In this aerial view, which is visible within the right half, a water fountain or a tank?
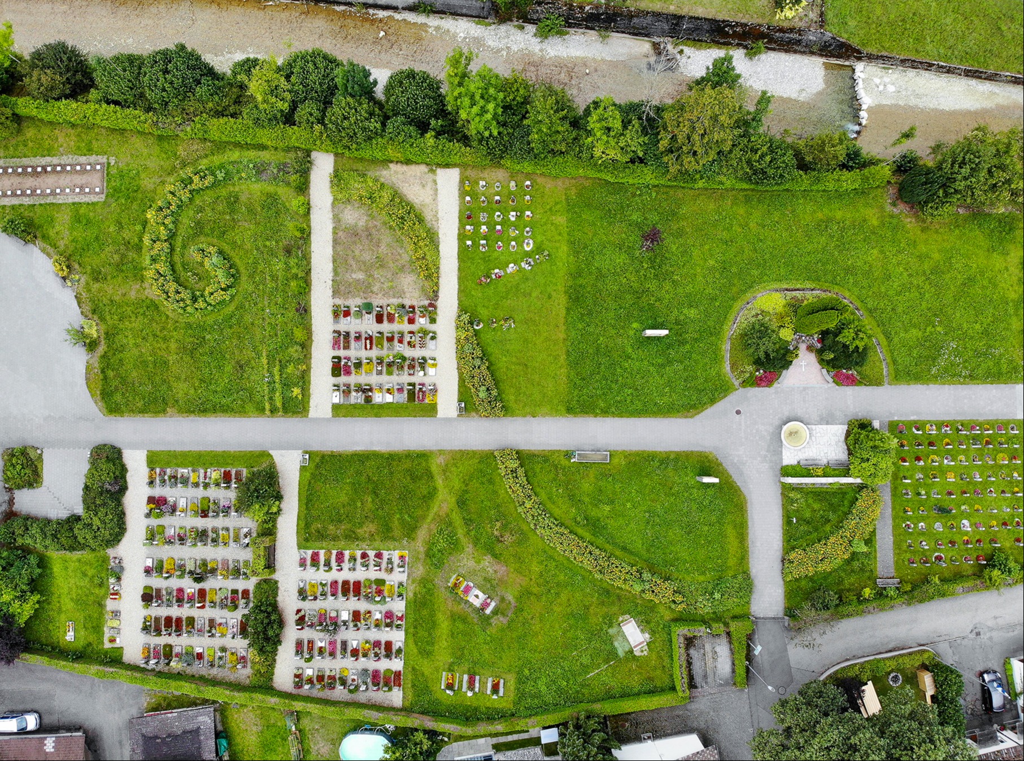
water fountain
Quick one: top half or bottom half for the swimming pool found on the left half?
bottom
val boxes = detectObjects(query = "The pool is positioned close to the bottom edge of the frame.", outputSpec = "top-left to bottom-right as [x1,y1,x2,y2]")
[340,728,394,761]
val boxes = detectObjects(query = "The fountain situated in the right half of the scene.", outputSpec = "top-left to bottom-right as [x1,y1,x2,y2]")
[780,421,810,449]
